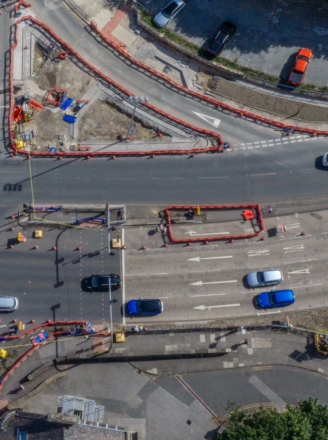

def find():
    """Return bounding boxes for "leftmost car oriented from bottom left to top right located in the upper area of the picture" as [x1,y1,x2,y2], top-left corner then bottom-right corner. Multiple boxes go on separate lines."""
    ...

[152,0,188,28]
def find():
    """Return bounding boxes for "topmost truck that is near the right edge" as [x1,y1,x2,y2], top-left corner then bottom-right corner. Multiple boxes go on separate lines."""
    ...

[287,45,314,89]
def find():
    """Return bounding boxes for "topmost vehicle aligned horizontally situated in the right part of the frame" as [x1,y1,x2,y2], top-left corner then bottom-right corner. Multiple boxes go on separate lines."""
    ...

[246,270,284,288]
